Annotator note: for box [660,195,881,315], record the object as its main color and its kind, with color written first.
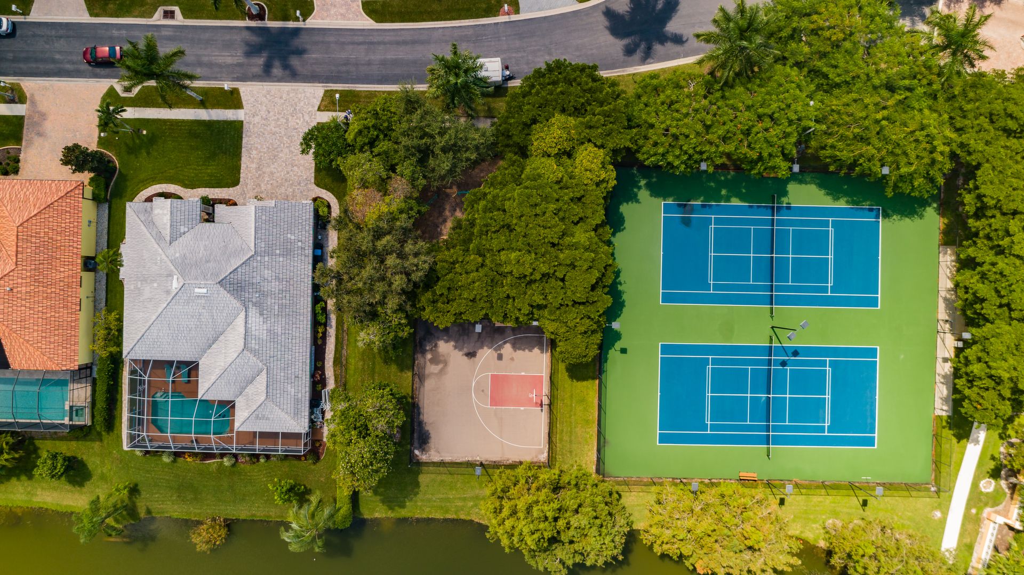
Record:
blue tennis court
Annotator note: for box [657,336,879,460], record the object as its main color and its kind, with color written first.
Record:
blue tennis court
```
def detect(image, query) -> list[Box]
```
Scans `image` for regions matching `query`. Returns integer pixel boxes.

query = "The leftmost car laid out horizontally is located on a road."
[80,42,122,63]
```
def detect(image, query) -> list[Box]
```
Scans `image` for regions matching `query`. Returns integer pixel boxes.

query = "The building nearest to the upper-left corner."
[0,178,98,369]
